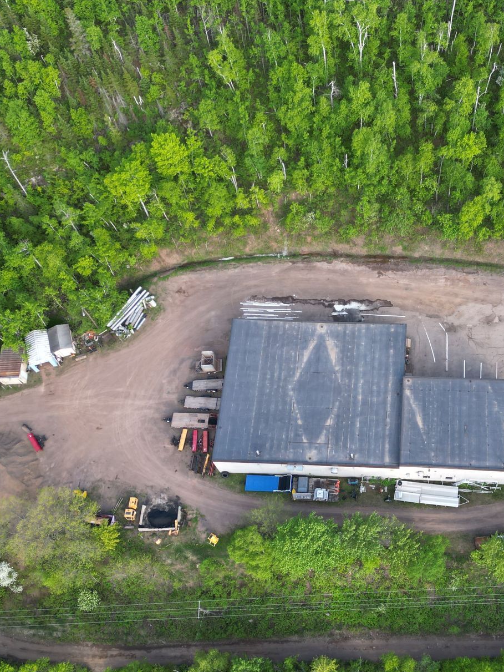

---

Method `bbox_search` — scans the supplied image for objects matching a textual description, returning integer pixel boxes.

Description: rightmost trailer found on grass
[394,481,469,508]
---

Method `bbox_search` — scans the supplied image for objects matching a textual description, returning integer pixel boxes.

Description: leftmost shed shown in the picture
[0,347,29,384]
